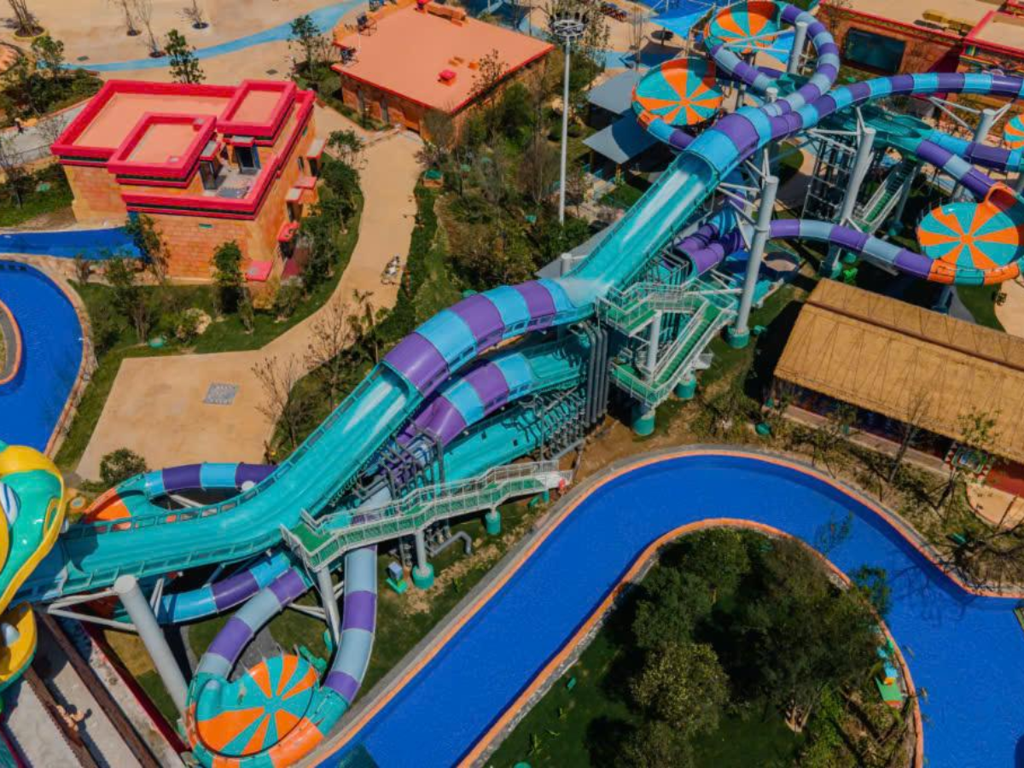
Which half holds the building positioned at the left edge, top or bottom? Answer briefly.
top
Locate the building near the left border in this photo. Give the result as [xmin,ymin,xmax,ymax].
[45,80,332,295]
